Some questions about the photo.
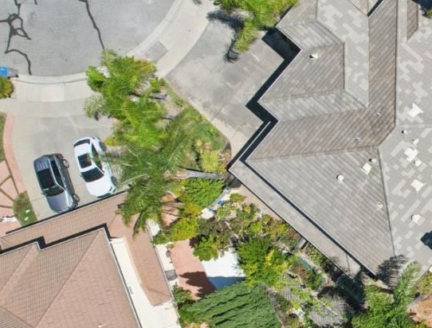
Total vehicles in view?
2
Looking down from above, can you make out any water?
No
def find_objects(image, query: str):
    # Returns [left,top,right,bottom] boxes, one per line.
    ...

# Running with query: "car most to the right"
[73,137,115,200]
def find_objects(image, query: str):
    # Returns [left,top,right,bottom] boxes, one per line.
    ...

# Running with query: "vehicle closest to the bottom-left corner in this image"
[31,152,77,215]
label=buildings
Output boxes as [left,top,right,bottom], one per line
[0,188,192,328]
[228,0,432,289]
